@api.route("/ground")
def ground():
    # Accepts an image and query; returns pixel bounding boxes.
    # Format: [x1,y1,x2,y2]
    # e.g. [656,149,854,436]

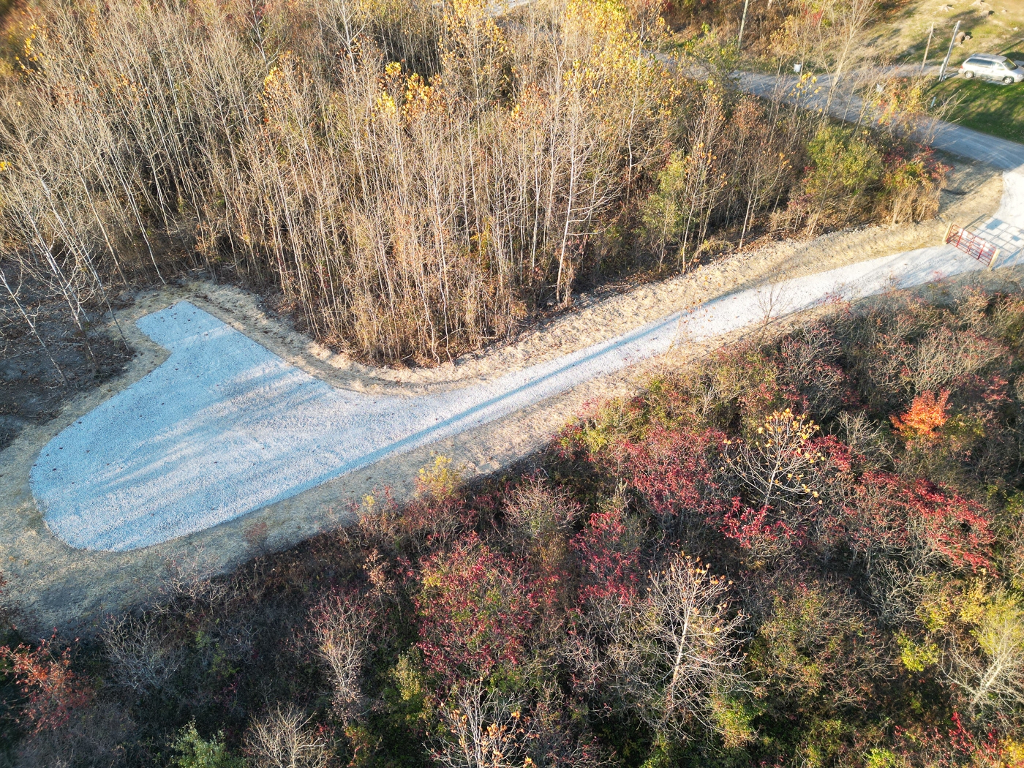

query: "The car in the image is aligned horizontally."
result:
[959,44,1024,80]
